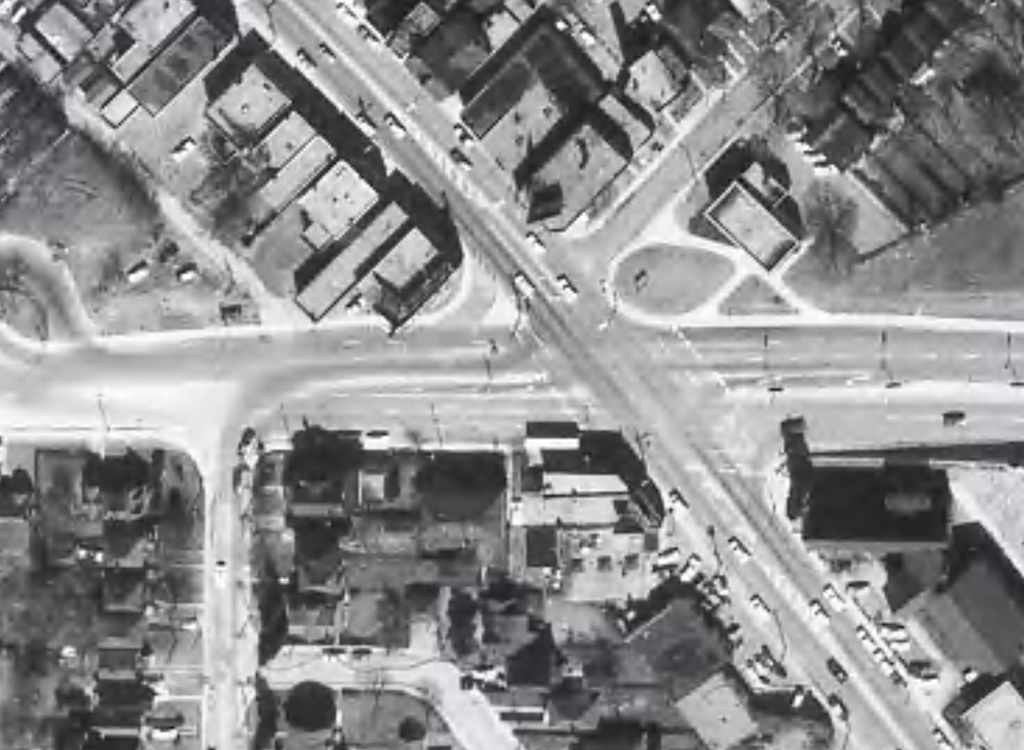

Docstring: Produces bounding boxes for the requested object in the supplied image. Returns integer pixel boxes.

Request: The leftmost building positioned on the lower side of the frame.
[0,518,31,560]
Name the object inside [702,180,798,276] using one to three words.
gas station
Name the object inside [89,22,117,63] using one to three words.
shed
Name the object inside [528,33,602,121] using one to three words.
building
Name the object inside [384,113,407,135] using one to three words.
car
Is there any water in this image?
No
